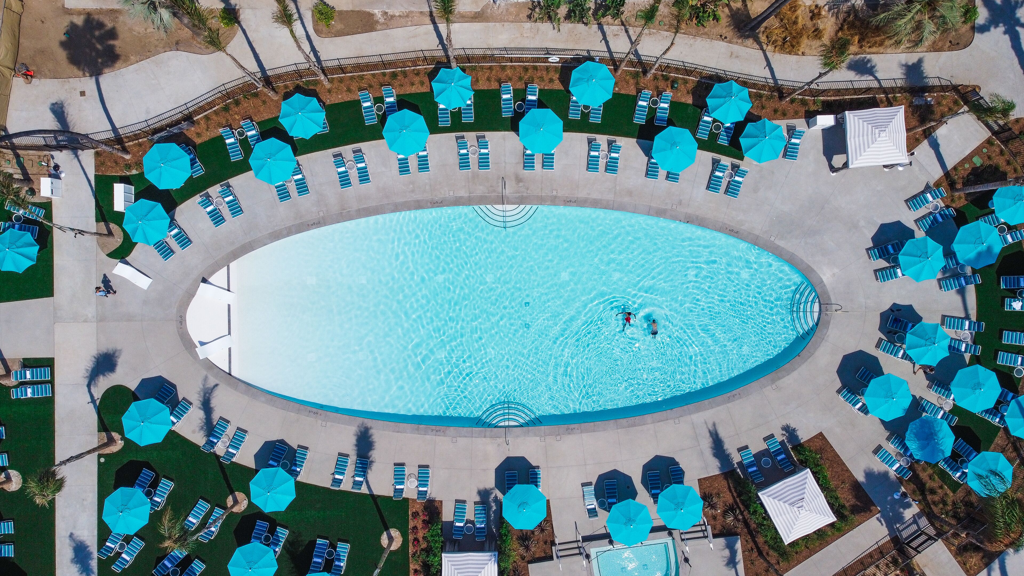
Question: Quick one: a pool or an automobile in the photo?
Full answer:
I can see a pool in this picture.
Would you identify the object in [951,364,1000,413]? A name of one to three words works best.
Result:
umbrella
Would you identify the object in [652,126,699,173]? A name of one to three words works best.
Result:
umbrella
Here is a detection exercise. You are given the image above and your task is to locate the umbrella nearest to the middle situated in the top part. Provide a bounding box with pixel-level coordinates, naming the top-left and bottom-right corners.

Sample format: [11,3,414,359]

[519,109,563,153]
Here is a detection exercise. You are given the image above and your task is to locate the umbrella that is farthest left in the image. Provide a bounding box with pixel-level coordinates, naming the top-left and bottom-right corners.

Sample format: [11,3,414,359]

[0,228,42,273]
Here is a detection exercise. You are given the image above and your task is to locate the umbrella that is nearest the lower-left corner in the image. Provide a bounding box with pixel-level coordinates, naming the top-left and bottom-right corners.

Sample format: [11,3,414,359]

[102,487,151,535]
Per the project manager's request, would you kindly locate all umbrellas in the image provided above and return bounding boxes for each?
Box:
[0,228,42,273]
[228,540,278,576]
[519,109,563,153]
[864,373,912,421]
[382,109,430,156]
[502,484,547,530]
[102,487,151,535]
[740,118,786,163]
[905,322,951,366]
[951,364,1000,413]
[657,484,703,530]
[606,499,653,546]
[123,398,172,446]
[250,467,295,513]
[249,137,297,185]
[431,67,474,110]
[953,220,1002,269]
[707,80,751,124]
[279,93,325,140]
[906,415,954,463]
[569,61,615,107]
[1002,396,1024,440]
[964,452,1012,497]
[988,185,1024,226]
[652,126,699,173]
[143,142,191,189]
[123,199,171,246]
[898,236,945,282]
